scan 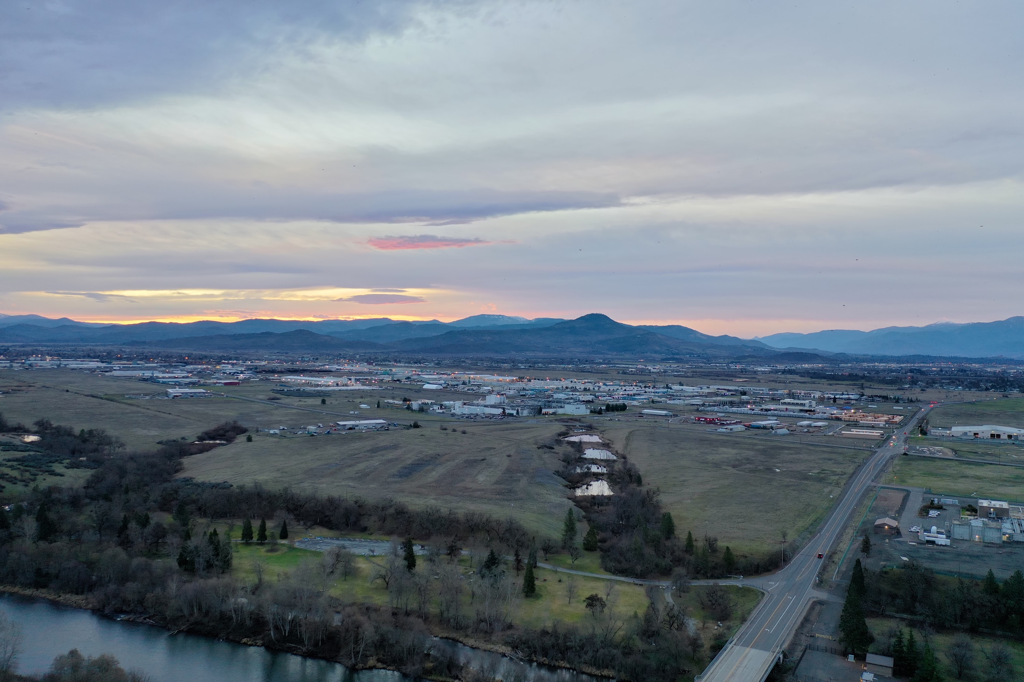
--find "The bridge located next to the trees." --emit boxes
[688,627,785,682]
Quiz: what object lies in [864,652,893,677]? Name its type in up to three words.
shed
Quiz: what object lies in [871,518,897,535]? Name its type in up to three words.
building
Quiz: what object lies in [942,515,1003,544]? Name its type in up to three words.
building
